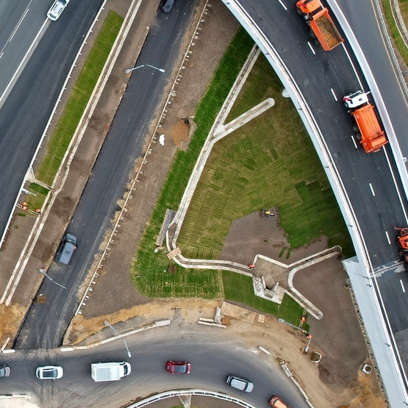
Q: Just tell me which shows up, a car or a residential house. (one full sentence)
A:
I can see a car in this picture.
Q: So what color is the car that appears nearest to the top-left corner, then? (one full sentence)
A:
The car that appears nearest to the top-left corner is white.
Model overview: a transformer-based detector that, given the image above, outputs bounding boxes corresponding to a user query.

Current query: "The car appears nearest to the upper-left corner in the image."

[46,0,68,22]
